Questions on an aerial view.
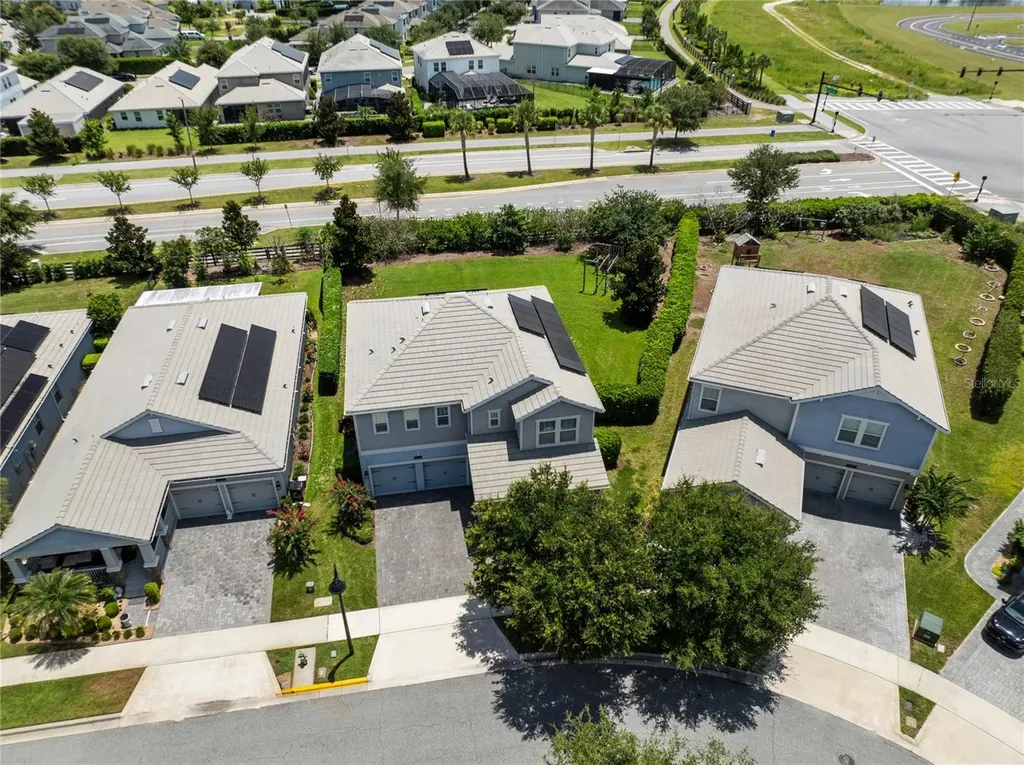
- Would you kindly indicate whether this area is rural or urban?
urban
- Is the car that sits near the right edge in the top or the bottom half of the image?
bottom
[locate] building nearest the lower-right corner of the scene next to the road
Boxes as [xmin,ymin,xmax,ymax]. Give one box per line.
[660,264,952,540]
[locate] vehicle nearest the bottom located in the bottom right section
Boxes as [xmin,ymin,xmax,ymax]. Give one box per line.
[989,579,1024,654]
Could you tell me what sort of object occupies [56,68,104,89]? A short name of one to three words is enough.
solar panel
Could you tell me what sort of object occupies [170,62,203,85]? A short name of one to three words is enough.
solar panel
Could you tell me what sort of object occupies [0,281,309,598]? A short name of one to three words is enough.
house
